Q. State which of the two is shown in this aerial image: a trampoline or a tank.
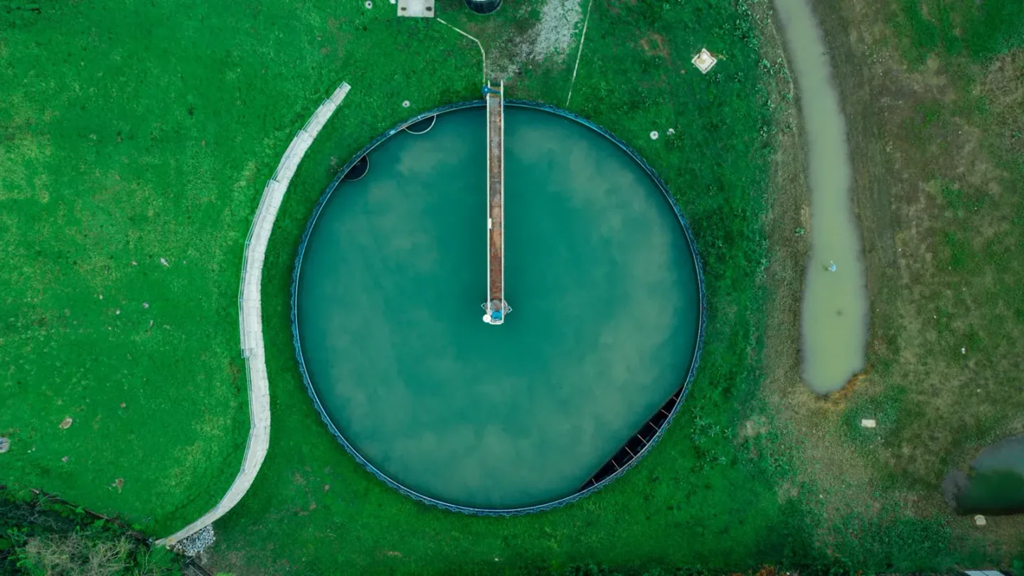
tank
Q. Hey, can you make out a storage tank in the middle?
Yes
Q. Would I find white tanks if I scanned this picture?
No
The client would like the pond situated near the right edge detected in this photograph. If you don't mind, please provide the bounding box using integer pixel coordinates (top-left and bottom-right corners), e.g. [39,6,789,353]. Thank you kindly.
[942,433,1024,515]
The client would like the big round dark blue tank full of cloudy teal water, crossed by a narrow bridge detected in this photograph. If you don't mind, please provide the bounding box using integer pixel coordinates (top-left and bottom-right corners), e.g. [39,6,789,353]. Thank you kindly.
[292,101,705,515]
